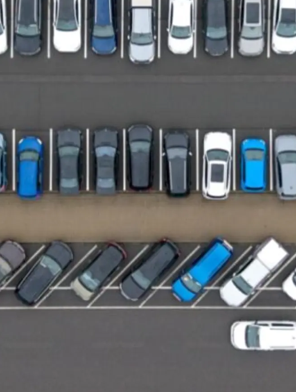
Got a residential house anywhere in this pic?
No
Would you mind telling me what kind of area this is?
parking lot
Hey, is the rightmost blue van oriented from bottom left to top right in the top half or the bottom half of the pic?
bottom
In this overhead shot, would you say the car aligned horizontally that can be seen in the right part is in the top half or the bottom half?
bottom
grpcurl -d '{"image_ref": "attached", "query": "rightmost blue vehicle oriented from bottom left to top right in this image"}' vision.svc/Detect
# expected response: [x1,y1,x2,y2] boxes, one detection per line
[172,234,234,303]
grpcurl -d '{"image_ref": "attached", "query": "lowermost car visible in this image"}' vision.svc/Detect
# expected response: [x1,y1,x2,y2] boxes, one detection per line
[230,320,296,353]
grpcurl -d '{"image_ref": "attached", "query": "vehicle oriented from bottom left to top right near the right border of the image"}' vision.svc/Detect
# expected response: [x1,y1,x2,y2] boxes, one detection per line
[221,233,292,307]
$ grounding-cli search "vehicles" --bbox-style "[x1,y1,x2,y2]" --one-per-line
[271,0,296,55]
[11,0,44,55]
[239,138,269,193]
[15,136,45,199]
[0,0,8,54]
[126,0,158,64]
[50,0,83,52]
[121,237,181,301]
[90,129,121,194]
[274,135,296,199]
[221,233,292,307]
[172,234,234,303]
[13,239,75,308]
[201,0,232,55]
[166,0,196,55]
[72,240,126,301]
[124,125,156,191]
[281,266,296,301]
[161,131,194,197]
[0,134,8,191]
[230,320,296,353]
[87,0,119,55]
[201,131,234,200]
[53,129,84,194]
[0,239,25,289]
[237,0,268,56]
